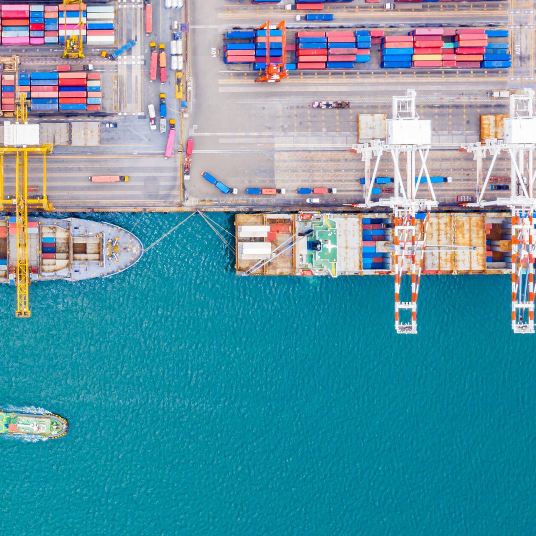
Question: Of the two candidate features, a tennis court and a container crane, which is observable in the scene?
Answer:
container crane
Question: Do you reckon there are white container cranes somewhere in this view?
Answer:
Yes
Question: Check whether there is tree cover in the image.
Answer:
No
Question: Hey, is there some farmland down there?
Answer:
No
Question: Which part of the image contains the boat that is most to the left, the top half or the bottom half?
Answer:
bottom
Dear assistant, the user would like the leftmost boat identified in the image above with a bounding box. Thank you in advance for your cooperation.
[0,410,70,440]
